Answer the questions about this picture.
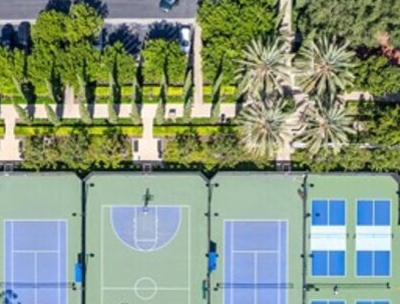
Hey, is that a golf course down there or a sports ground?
sports ground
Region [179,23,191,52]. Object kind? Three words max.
vehicle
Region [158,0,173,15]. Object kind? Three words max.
car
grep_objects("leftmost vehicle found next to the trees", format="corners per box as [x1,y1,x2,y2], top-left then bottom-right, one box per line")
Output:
[0,24,13,51]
